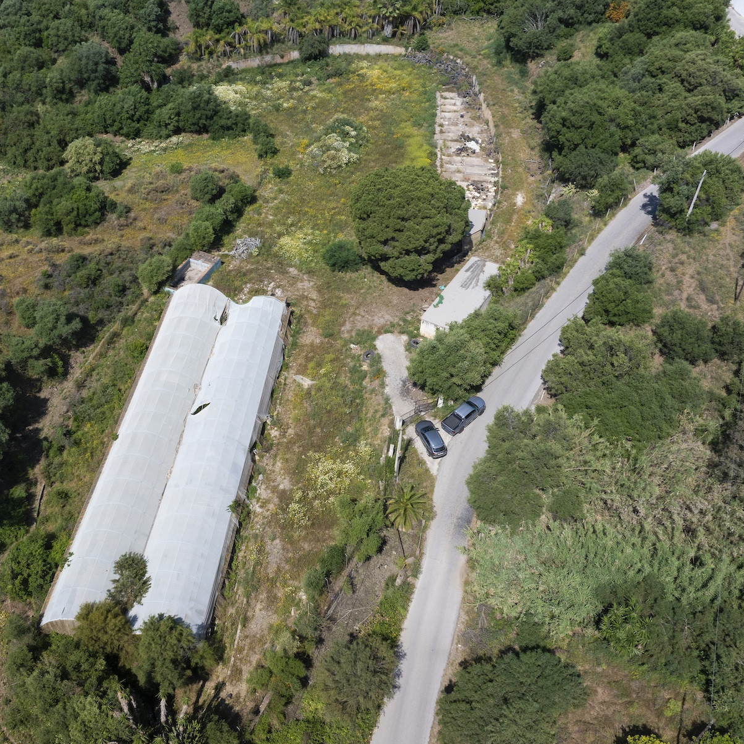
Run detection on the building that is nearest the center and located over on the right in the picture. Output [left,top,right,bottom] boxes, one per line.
[421,257,503,335]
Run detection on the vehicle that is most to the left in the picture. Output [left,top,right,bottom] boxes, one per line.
[414,416,450,458]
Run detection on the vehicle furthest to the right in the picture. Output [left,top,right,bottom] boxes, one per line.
[437,393,491,436]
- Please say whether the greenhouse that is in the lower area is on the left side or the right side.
left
